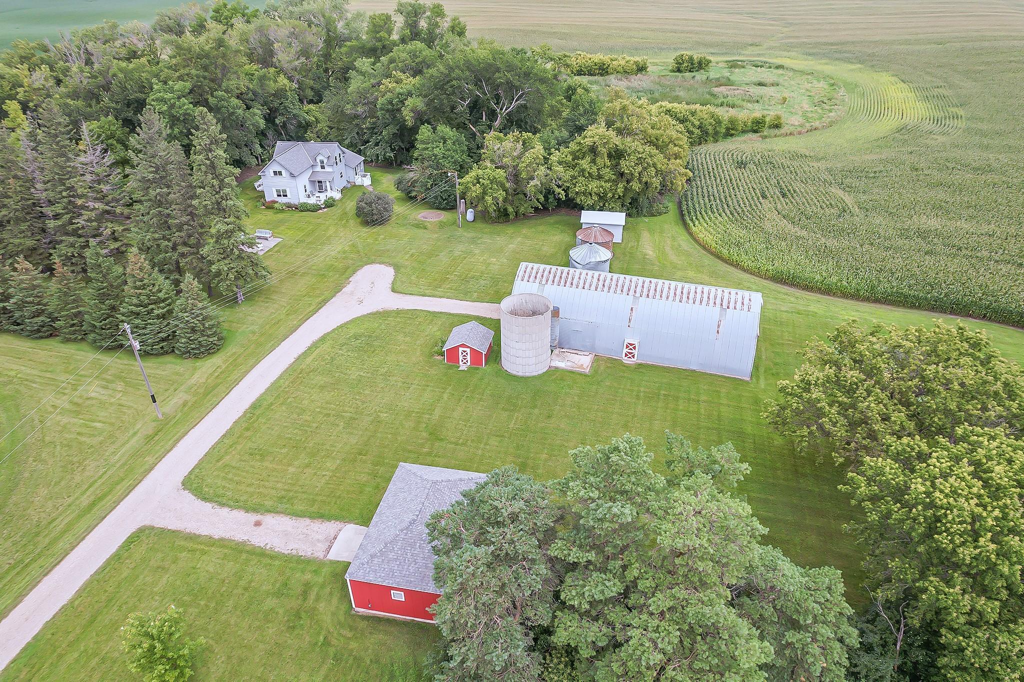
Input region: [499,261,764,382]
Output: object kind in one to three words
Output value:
barn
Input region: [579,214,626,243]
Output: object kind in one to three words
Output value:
shed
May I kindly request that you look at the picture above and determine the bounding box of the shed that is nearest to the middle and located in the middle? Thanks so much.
[441,320,496,370]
